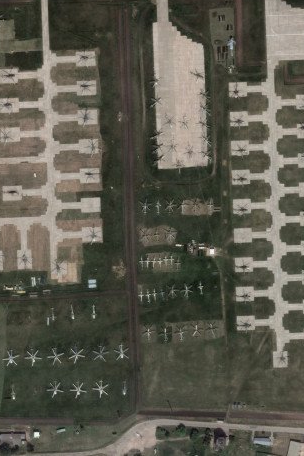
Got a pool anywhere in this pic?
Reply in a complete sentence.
No, no pool is visible in the view.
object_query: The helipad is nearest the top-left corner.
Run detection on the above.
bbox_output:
[0,68,37,84]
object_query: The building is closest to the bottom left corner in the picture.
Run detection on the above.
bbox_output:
[0,433,26,447]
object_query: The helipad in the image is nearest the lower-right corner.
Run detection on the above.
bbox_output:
[273,350,288,367]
